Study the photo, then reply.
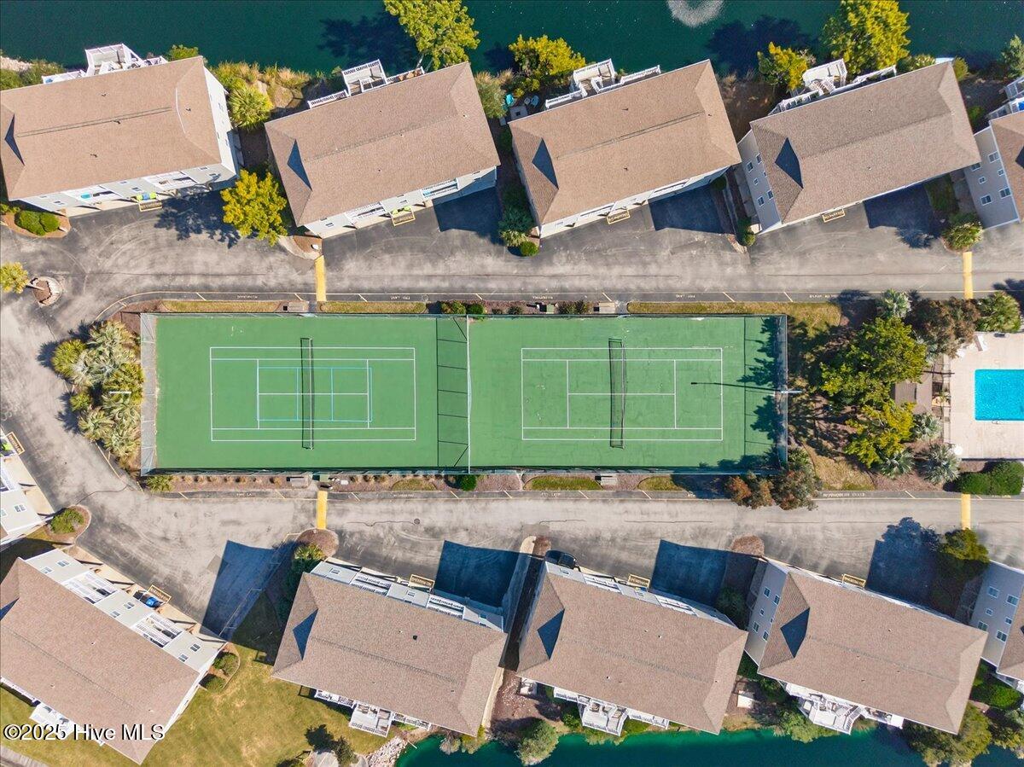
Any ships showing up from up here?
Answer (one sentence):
No, no ship is visible in the scene.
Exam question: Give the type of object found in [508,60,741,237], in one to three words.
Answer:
building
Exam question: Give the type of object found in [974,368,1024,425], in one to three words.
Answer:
swimming pool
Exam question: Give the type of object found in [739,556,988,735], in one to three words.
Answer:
building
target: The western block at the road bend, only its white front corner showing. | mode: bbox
[0,433,57,550]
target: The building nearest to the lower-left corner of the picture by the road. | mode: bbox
[0,543,227,765]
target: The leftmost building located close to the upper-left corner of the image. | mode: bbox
[0,46,249,216]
